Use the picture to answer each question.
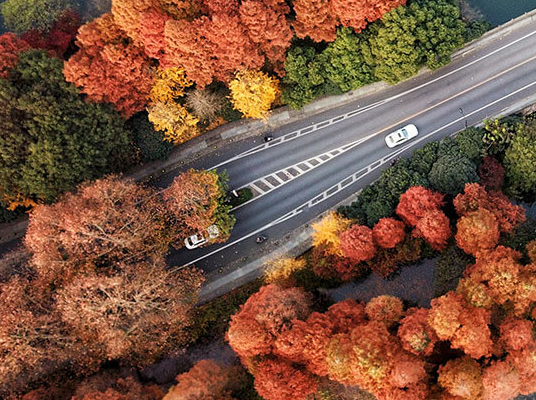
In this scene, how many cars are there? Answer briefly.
2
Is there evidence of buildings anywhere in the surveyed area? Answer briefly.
No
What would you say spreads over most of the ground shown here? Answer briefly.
trees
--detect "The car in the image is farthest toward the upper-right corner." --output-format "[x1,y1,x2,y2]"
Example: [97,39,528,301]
[384,124,418,146]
